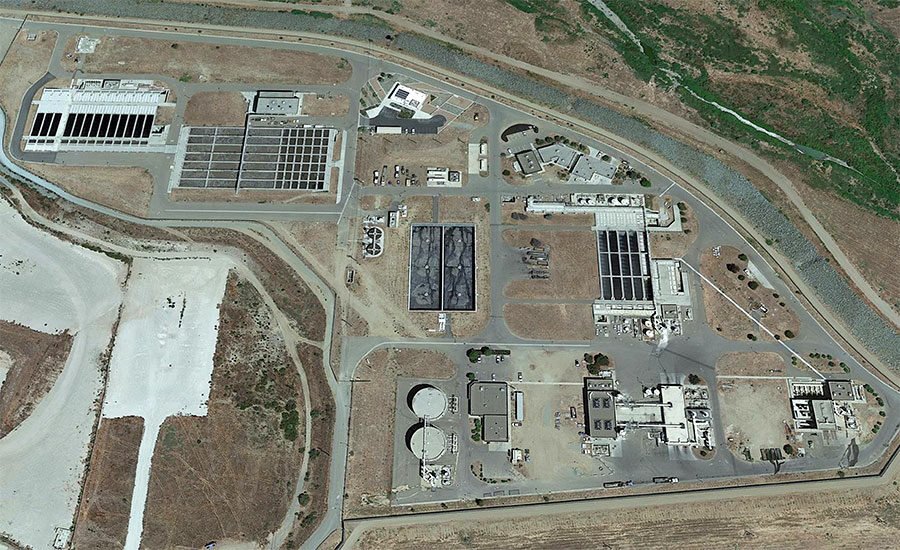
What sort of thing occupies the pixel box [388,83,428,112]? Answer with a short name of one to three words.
building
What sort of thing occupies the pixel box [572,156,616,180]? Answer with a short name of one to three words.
building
